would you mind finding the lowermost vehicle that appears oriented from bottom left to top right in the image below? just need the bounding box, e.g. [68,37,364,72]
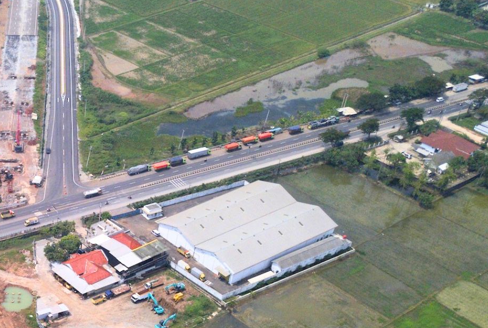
[153,312,175,328]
